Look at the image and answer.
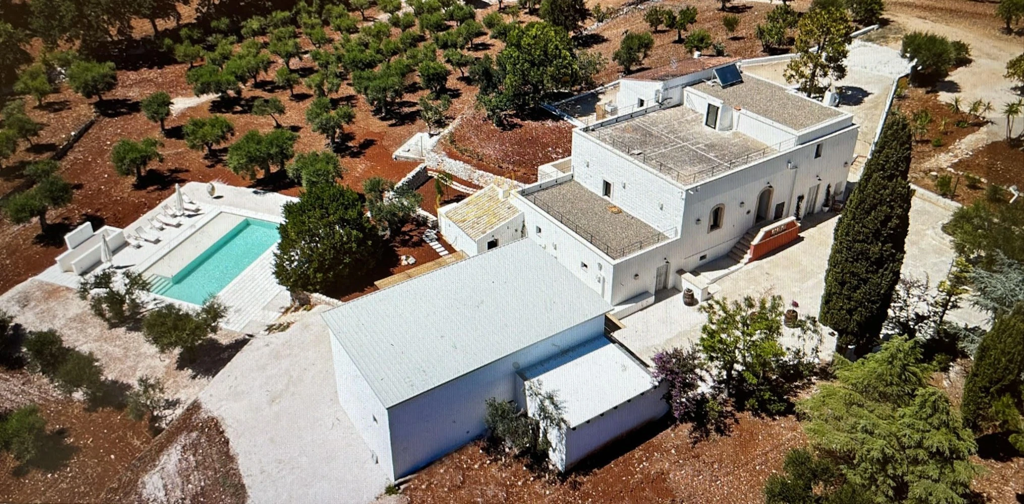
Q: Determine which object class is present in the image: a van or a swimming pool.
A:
swimming pool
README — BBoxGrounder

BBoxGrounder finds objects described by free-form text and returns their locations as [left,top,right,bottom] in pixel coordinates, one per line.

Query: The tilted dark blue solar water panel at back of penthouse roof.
[706,62,742,89]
